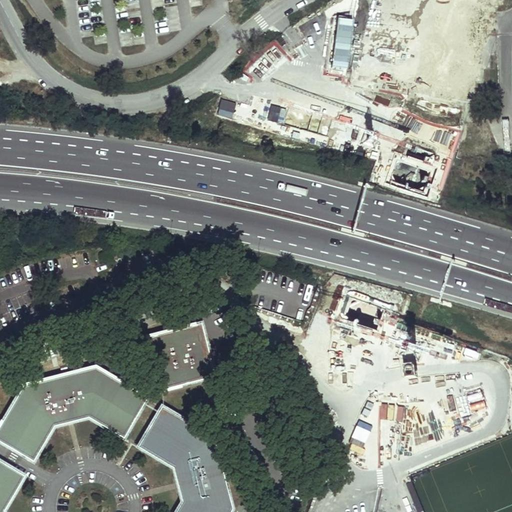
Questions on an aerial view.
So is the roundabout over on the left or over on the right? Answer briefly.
left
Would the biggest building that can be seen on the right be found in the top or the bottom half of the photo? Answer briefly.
top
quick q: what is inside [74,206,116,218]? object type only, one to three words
vehicle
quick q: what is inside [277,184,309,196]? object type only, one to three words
vehicle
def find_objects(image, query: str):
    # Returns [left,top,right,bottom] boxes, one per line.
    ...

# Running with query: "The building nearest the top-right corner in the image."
[332,10,354,68]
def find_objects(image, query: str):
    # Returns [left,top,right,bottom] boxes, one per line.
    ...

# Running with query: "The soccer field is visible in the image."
[410,432,512,512]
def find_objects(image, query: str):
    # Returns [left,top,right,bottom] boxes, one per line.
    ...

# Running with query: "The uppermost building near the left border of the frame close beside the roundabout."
[0,366,146,462]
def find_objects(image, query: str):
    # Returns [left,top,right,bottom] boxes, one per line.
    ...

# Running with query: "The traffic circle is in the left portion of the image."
[44,452,140,512]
